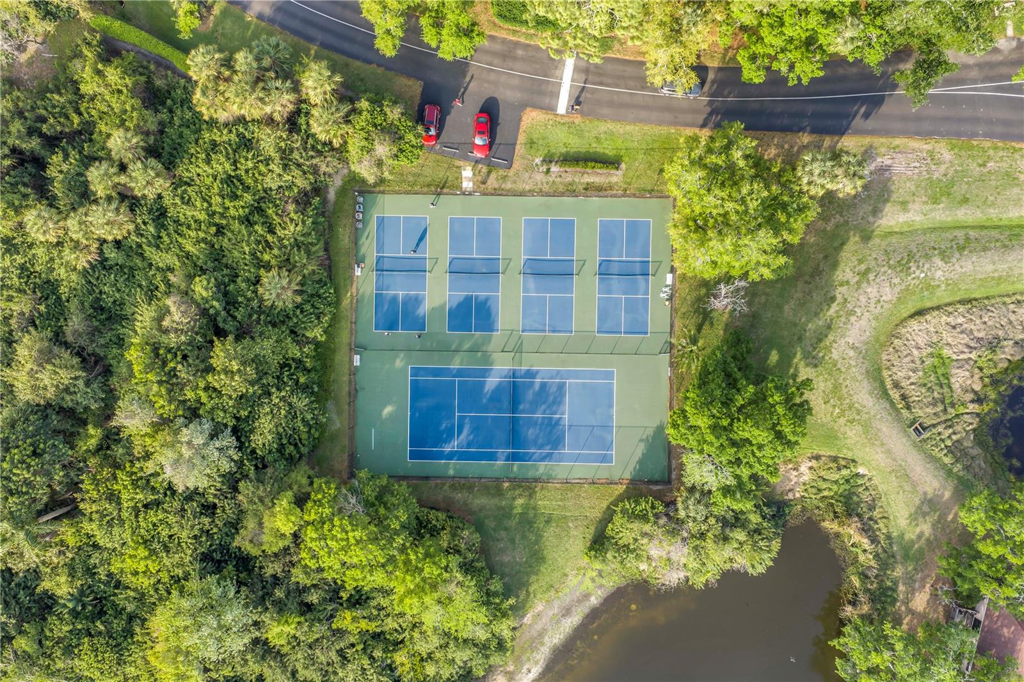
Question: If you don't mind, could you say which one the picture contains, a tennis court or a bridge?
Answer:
tennis court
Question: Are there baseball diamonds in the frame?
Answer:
No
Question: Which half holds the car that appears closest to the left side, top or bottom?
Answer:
top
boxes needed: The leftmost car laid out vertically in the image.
[419,103,440,146]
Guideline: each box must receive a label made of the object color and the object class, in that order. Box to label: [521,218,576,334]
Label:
blue sports court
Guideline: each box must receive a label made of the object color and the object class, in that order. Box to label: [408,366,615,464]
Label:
blue tennis court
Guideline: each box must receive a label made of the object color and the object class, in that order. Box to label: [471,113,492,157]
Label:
red car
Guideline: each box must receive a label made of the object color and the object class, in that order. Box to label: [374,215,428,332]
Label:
blue sports court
